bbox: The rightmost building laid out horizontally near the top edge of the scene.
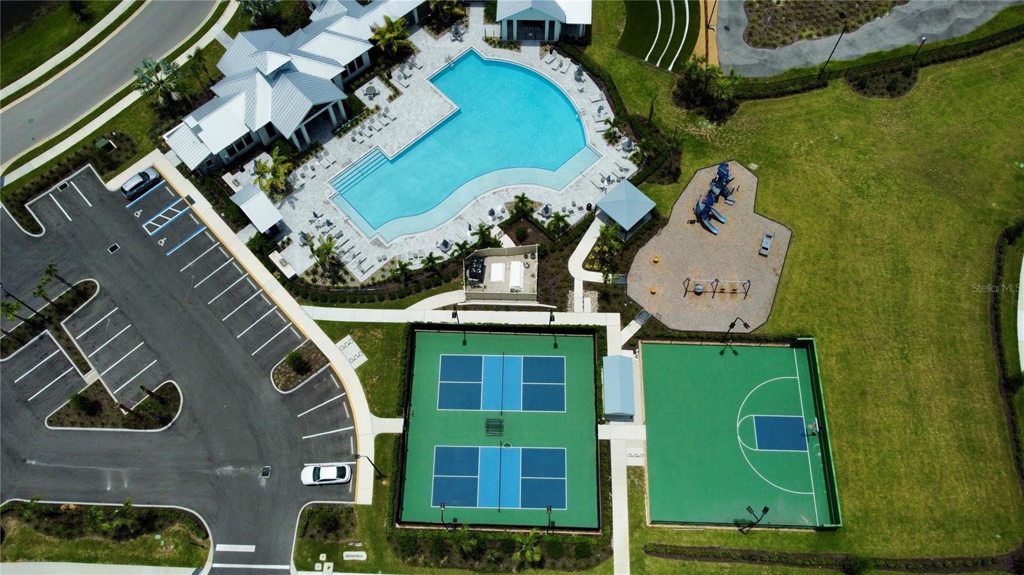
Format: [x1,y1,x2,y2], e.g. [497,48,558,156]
[496,0,591,40]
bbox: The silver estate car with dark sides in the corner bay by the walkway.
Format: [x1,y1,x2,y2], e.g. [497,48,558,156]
[117,168,161,200]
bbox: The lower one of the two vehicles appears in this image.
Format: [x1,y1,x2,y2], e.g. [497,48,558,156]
[301,460,351,484]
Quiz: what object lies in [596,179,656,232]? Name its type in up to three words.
gazebo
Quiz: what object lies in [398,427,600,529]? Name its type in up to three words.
sports court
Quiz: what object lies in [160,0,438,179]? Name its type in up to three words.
building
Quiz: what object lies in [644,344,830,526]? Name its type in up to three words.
basketball court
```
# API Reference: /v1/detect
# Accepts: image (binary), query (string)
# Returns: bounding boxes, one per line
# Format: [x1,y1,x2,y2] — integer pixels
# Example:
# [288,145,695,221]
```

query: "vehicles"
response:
[117,168,161,200]
[301,460,351,484]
